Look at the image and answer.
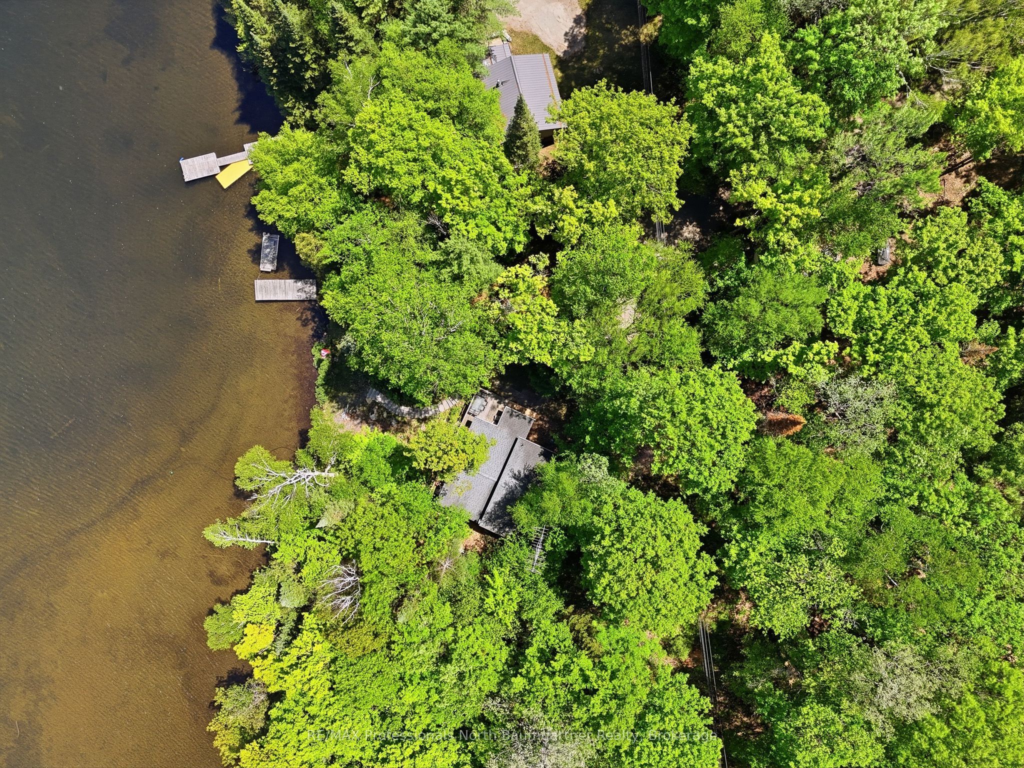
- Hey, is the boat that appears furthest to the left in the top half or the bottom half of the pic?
top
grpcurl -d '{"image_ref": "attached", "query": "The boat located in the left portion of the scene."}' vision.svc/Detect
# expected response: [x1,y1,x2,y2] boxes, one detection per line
[258,231,280,272]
